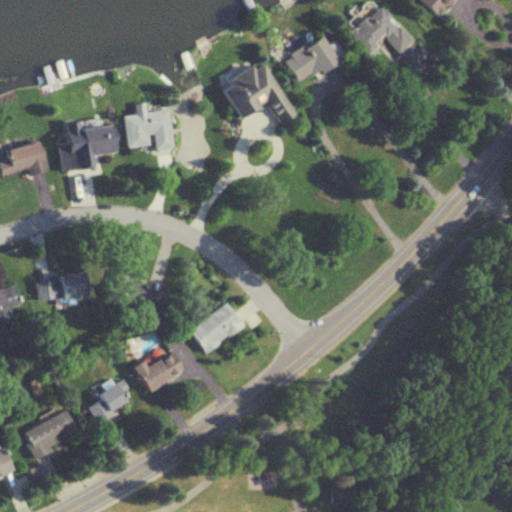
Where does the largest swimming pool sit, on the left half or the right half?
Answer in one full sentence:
You can find the largest swimming pool on the left side of the picture.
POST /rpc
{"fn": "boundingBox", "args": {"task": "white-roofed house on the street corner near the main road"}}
[194,304,248,353]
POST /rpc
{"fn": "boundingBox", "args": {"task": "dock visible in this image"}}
[40,70,104,94]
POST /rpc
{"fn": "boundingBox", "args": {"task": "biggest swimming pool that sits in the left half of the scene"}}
[127,334,159,360]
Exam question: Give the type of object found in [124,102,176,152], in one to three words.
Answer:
house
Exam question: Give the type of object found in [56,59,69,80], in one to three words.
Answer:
boat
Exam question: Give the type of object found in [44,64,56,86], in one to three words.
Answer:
boat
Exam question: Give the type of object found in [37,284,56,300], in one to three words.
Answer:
building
